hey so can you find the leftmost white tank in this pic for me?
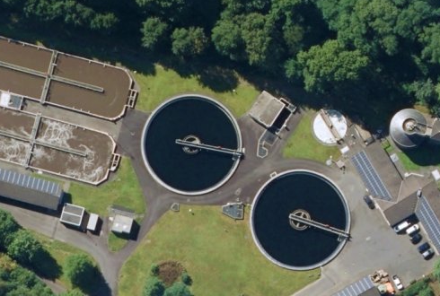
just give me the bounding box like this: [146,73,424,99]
[312,108,347,146]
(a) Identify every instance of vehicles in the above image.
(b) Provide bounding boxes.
[363,195,376,209]
[405,224,420,236]
[392,275,404,291]
[421,248,436,259]
[393,220,411,233]
[417,241,432,252]
[409,233,424,244]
